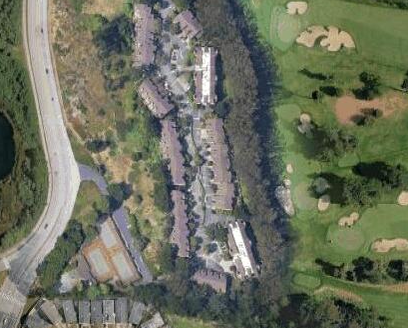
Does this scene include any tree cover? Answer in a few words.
Yes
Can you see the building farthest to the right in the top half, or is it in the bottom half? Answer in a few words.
bottom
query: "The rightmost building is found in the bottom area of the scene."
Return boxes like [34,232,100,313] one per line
[227,223,256,276]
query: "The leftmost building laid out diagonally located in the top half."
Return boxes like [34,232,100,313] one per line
[139,81,174,117]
